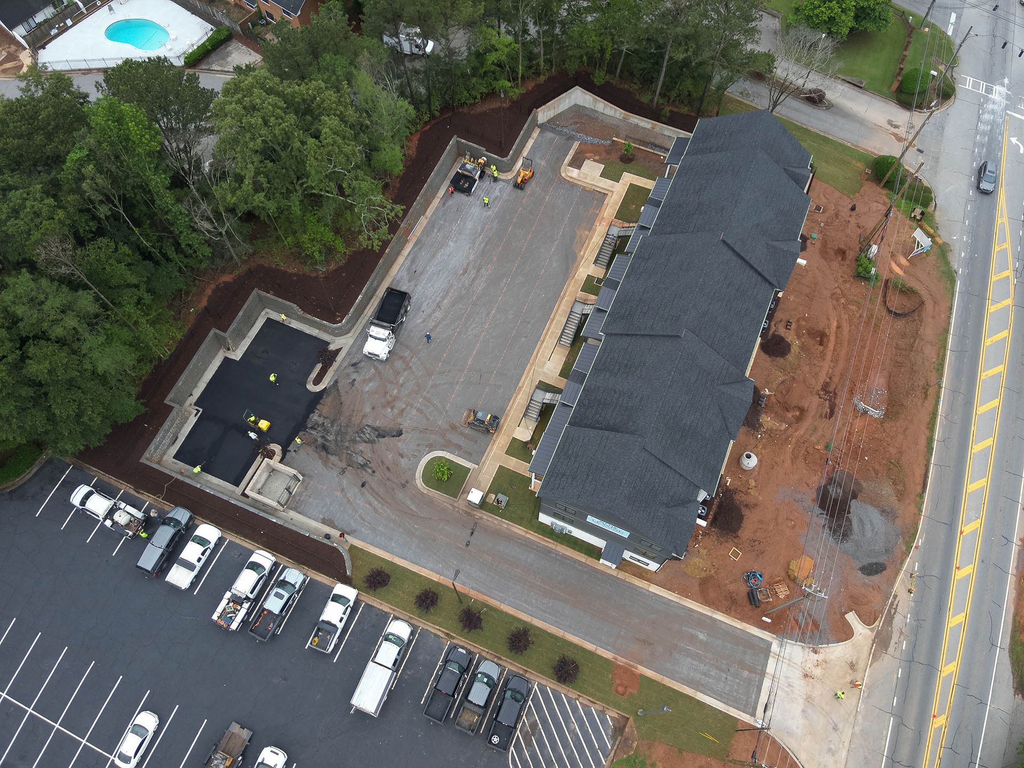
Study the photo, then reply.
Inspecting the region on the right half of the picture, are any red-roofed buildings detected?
No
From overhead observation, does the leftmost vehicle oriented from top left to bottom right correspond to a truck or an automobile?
truck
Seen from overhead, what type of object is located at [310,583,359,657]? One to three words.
truck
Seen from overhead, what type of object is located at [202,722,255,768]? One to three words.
trailer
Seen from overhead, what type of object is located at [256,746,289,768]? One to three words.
car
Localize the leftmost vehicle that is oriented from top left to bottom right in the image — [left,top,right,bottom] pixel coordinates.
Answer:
[69,484,149,544]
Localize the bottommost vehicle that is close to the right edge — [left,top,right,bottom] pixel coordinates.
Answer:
[974,158,999,198]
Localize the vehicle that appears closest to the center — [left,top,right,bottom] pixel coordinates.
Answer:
[462,408,500,435]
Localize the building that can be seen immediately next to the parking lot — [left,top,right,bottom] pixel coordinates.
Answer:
[526,114,821,572]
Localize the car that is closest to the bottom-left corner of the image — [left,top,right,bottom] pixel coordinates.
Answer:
[112,709,161,768]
